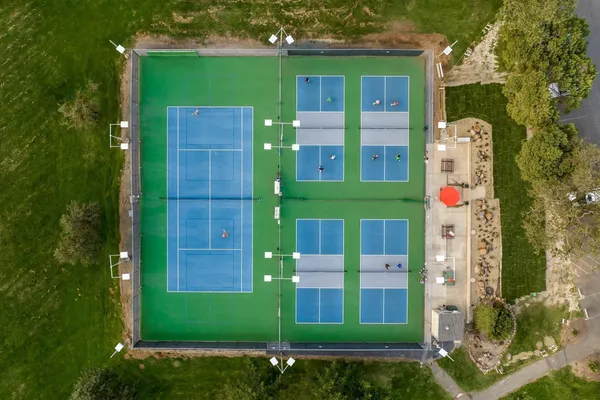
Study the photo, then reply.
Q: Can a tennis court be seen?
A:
Yes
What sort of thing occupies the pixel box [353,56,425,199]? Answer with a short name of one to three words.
sports court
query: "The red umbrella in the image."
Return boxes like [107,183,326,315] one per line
[439,186,459,206]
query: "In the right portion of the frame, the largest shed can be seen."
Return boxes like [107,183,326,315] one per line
[432,309,468,343]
